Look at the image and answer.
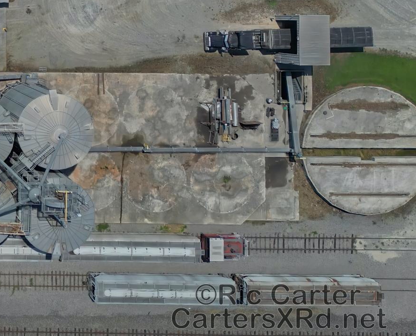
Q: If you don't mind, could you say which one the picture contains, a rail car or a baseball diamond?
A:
rail car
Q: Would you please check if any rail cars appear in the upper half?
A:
No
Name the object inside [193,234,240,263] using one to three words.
rail car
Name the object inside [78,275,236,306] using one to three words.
rail car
